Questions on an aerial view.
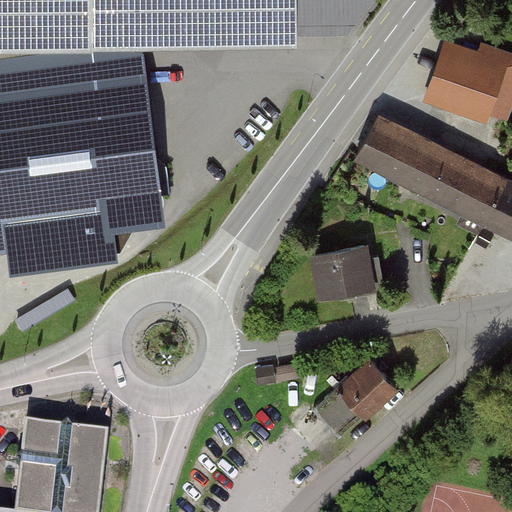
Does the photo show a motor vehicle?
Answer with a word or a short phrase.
Yes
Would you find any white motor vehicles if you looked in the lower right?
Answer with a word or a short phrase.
Yes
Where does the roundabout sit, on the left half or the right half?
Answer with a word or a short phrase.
left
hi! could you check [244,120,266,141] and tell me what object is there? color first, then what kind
white car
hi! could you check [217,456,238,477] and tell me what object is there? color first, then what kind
white vehicle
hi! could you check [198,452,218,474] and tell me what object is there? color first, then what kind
white car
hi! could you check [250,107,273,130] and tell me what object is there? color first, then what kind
white truck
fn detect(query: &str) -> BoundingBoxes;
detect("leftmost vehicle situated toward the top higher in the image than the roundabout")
[150,70,182,84]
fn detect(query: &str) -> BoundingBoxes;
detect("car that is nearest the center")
[206,160,225,179]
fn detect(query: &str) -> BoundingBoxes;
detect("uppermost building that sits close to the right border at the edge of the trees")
[423,39,512,124]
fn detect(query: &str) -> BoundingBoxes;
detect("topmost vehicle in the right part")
[415,54,436,69]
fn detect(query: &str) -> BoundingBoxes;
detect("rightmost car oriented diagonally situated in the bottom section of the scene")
[384,390,405,409]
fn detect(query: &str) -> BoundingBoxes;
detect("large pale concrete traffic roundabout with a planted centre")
[0,228,258,512]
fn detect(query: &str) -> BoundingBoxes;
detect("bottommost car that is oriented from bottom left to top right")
[293,464,314,484]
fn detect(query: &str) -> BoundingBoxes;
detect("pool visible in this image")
[368,172,386,190]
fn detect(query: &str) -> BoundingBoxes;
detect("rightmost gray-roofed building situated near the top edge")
[298,0,370,38]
